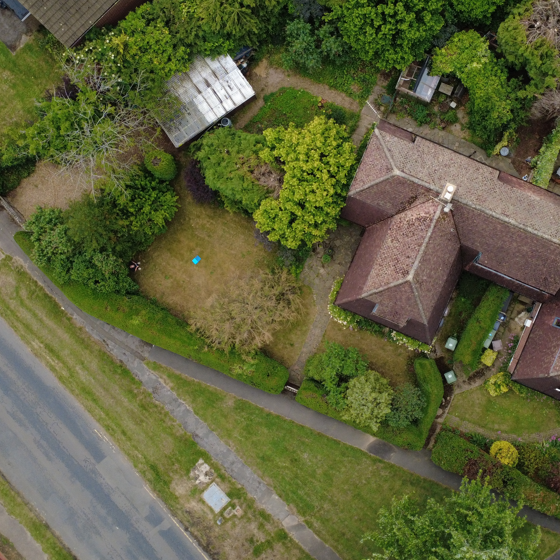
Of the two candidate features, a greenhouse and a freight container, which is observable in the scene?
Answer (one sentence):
There is a greenhouse in the scene.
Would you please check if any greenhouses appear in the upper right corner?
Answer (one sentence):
Yes, a greenhouse shows up in the upper right corner.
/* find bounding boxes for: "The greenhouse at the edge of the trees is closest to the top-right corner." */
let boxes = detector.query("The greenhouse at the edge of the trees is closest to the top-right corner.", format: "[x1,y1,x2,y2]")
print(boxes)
[393,58,441,107]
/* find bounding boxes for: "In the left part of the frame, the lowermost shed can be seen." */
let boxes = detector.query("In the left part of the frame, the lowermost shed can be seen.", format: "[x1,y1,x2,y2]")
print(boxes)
[150,54,257,152]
